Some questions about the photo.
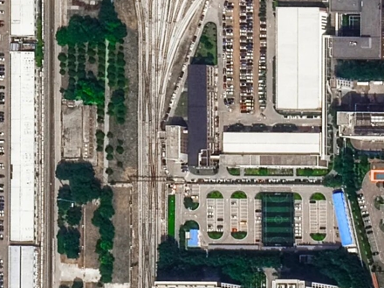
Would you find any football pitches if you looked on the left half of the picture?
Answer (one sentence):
No, there's no football pitch to be seen on the left half of the picture.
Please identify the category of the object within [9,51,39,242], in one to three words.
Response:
shed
